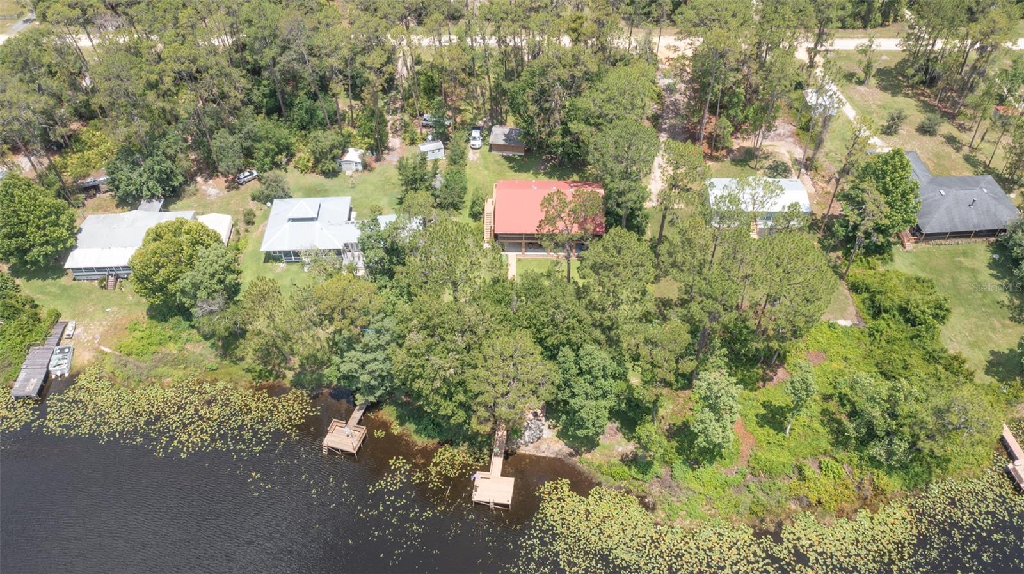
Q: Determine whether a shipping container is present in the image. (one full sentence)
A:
No, no shipping container is visible in the scene.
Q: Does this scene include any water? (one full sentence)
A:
Yes, water shows up in the scene.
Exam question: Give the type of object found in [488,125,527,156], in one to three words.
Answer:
shed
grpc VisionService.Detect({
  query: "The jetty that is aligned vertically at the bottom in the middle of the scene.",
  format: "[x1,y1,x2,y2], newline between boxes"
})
[473,425,514,513]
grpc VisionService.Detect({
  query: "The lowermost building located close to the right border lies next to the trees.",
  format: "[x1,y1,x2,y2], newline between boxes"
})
[861,151,1024,254]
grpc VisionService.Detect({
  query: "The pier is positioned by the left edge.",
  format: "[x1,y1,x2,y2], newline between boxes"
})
[11,322,66,406]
